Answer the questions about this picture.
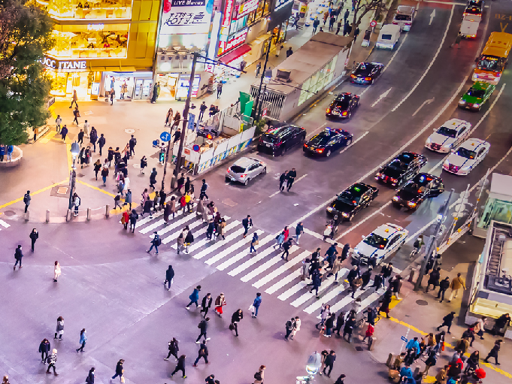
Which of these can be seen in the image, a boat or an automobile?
automobile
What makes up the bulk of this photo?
paved ground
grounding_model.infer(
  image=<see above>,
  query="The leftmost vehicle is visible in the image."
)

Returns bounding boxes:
[223,151,270,183]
